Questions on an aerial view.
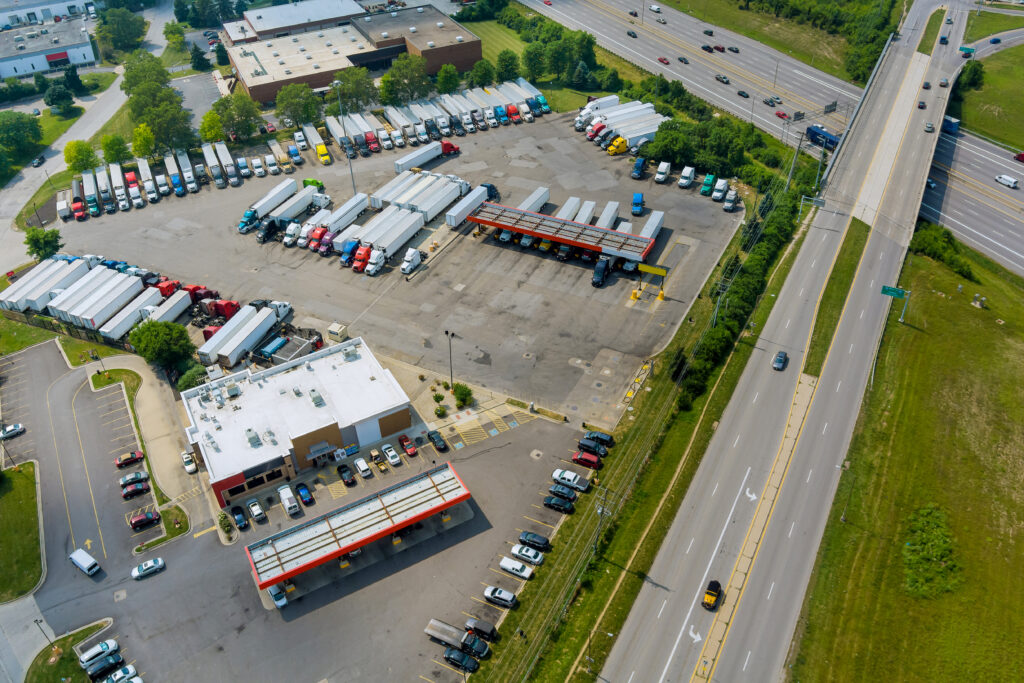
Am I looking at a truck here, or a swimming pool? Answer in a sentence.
Of the two, only a truck appears.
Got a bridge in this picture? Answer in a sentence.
Yes, I can see a bridge in this picture.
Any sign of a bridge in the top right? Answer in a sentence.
Yes, a bridge can be seen in the top right.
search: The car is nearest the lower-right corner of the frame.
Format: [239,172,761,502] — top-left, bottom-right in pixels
[701,575,724,611]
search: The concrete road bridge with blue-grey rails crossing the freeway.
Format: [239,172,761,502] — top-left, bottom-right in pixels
[814,48,954,250]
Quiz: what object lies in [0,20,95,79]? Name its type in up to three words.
building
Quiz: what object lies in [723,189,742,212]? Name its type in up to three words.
vehicle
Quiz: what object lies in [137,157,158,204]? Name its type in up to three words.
truck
